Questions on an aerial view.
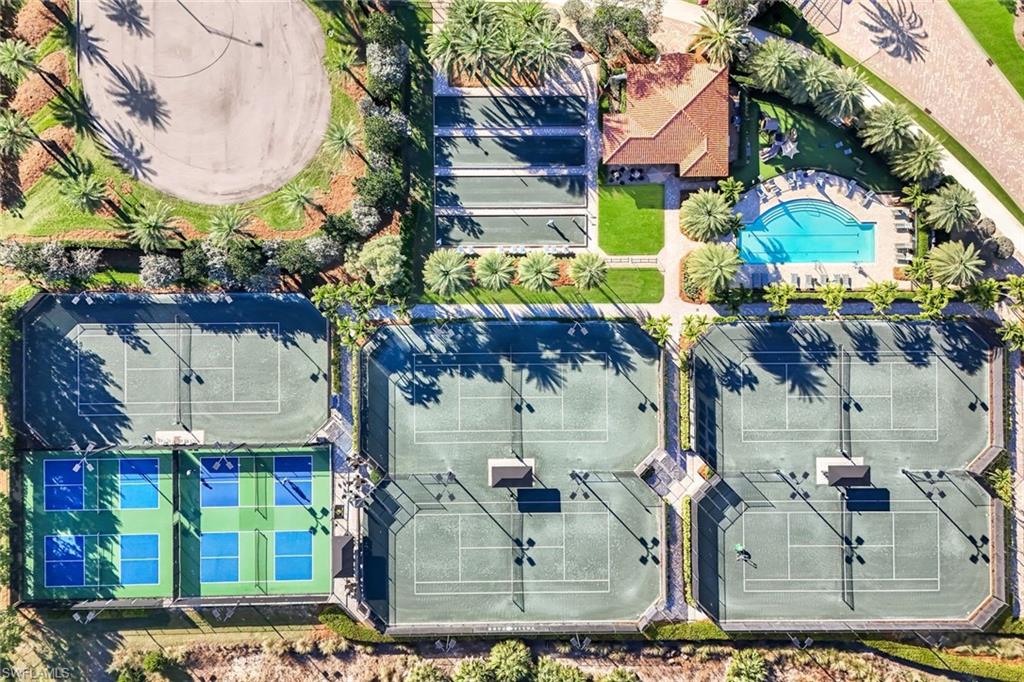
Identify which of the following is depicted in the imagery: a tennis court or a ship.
tennis court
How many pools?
1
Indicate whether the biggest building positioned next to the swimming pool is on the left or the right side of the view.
right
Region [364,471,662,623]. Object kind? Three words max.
tennis court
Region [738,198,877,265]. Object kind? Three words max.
swimming pool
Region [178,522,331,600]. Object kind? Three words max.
sports court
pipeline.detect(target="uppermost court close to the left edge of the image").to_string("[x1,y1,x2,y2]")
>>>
[23,293,326,446]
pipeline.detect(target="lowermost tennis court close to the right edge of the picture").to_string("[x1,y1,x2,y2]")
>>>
[701,471,990,622]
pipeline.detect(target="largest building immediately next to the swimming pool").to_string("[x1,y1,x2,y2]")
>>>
[603,52,729,177]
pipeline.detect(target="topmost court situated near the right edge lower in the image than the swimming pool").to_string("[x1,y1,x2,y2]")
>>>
[697,324,990,478]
